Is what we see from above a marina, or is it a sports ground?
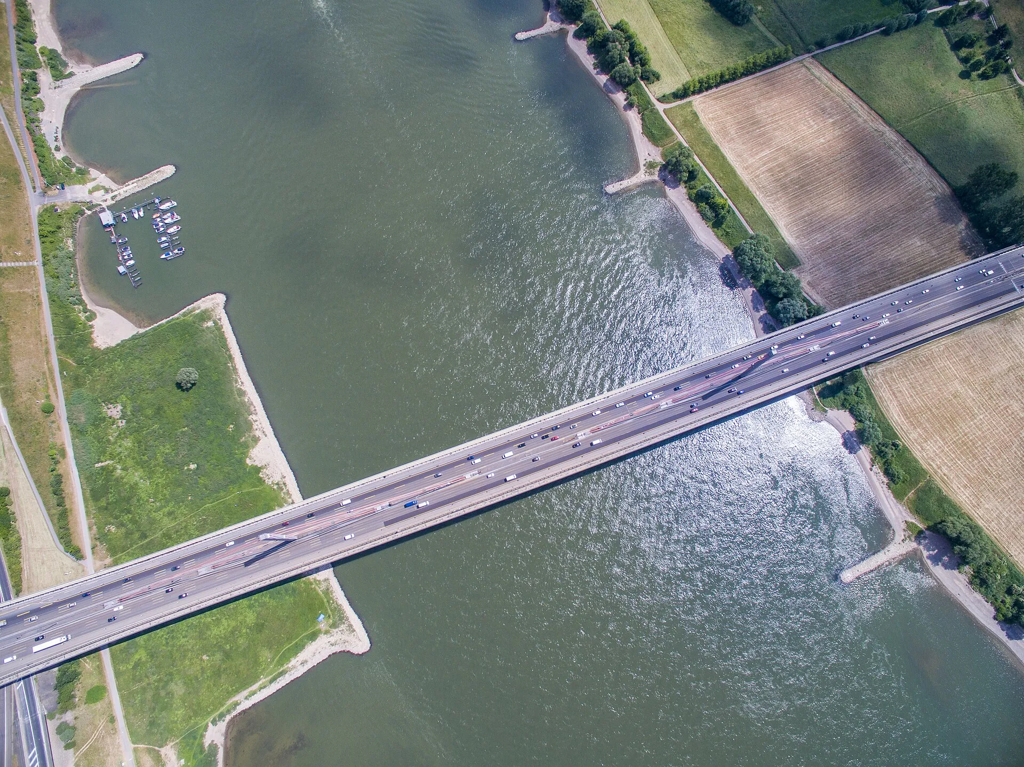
marina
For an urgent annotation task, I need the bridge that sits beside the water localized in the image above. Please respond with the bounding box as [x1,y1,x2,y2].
[0,243,1024,689]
